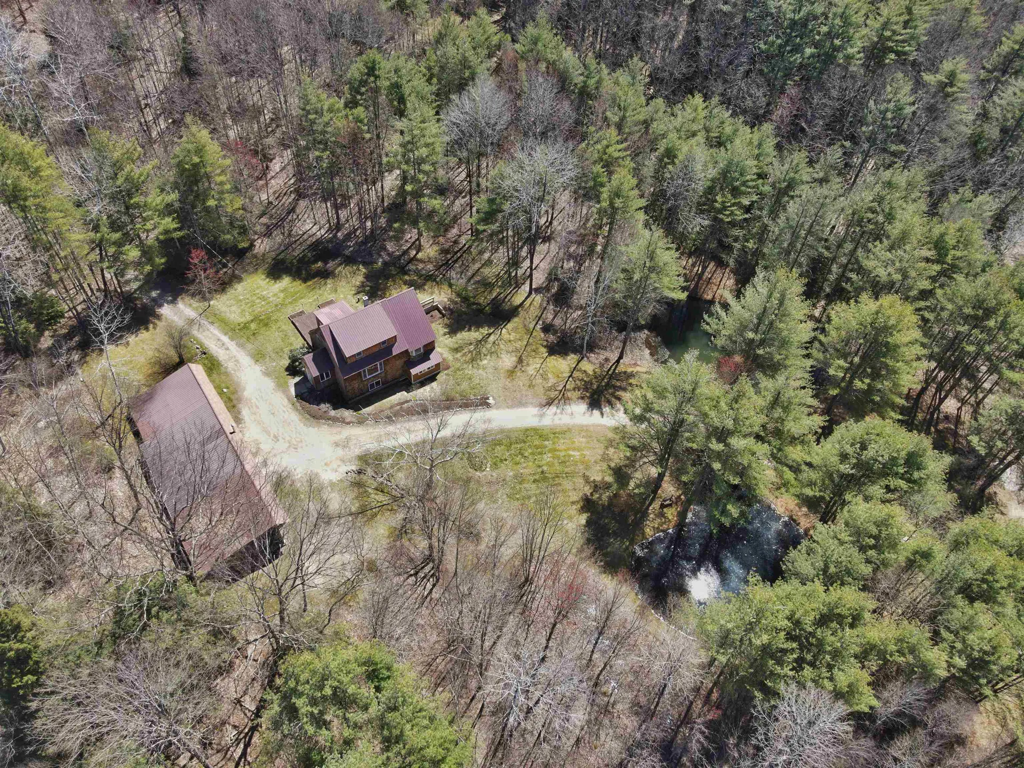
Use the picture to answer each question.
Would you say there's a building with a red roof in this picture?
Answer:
No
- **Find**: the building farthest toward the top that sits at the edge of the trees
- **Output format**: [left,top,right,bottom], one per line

[289,286,443,402]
